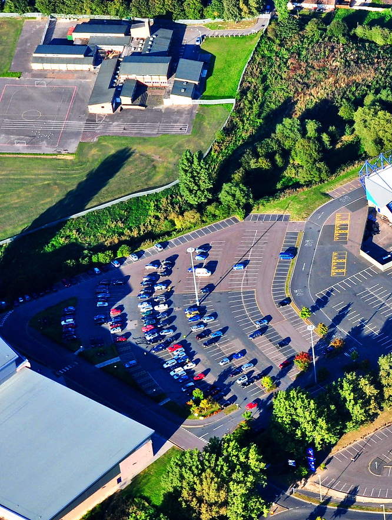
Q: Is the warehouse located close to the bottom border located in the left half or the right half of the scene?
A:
left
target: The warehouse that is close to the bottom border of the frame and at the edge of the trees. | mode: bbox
[0,366,157,520]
